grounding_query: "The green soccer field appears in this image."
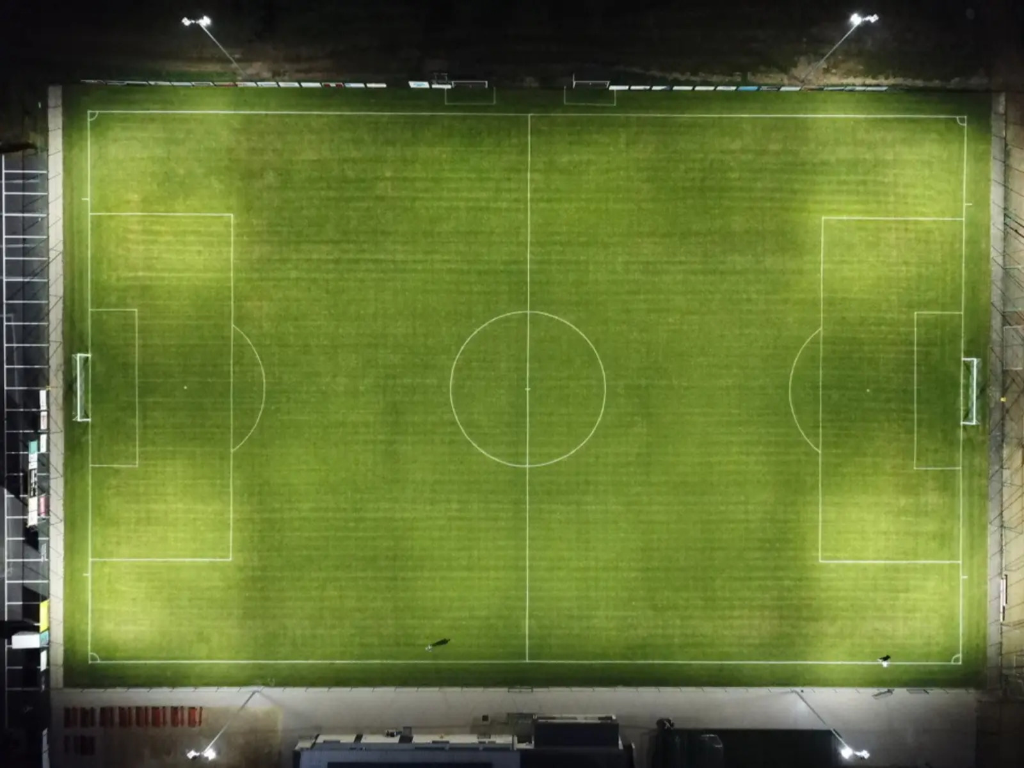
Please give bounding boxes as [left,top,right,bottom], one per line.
[63,86,991,688]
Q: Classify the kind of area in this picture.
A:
sports ground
